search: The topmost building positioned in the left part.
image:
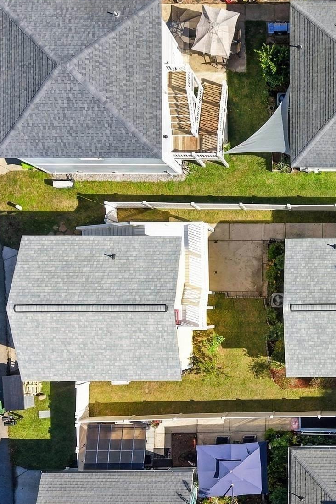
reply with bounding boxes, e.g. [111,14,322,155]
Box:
[0,0,185,178]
